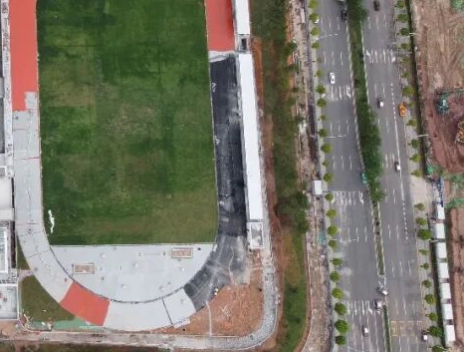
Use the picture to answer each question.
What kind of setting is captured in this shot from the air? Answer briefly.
sports ground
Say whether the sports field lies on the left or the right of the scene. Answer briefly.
left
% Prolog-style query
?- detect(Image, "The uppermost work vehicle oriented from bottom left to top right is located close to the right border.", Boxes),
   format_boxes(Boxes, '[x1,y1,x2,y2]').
[437,87,454,111]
